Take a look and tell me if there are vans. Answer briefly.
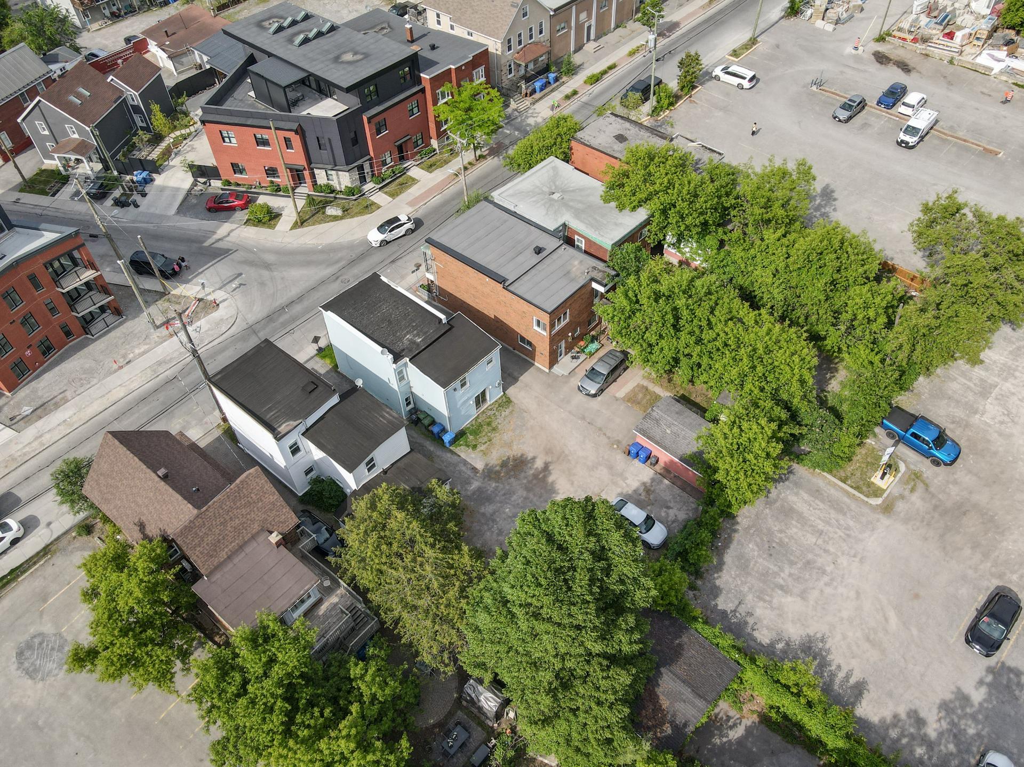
Yes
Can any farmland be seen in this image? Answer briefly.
No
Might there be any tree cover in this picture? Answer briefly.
Yes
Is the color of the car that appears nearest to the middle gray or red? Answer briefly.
gray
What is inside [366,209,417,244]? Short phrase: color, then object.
white car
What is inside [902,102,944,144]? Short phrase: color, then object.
white van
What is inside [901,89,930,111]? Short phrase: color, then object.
white car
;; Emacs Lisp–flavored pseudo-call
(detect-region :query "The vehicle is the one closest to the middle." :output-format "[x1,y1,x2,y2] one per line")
[581,344,637,398]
